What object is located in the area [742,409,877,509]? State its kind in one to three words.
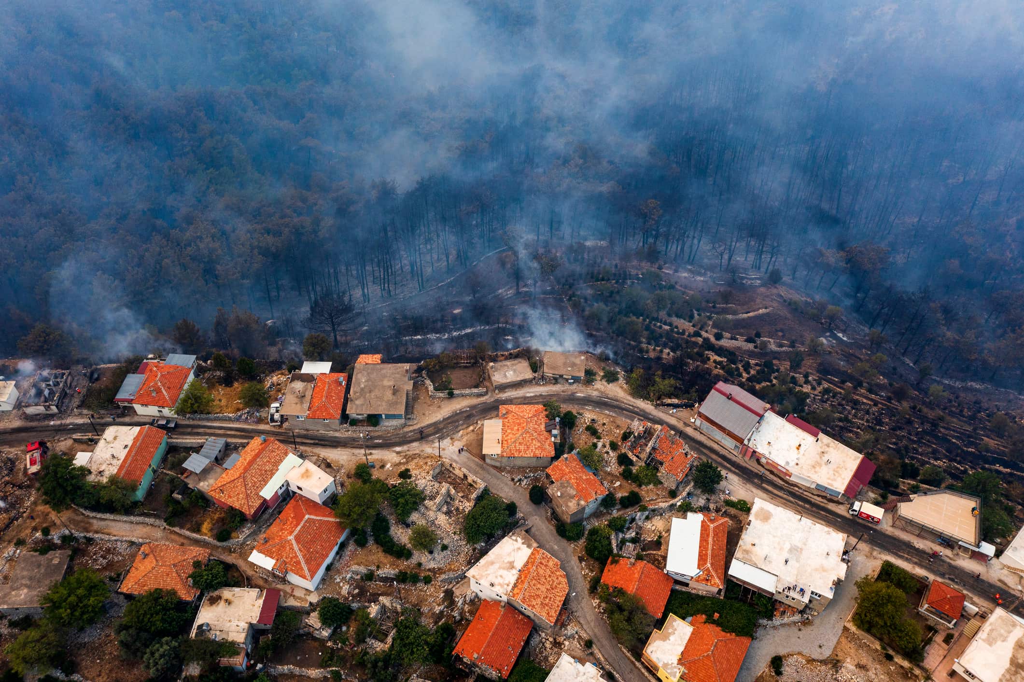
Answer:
building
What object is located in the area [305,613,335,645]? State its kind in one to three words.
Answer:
shed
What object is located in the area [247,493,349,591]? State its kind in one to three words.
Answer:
house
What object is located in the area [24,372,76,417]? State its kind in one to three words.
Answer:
house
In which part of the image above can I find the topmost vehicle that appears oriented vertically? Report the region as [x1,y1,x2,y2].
[266,399,282,426]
